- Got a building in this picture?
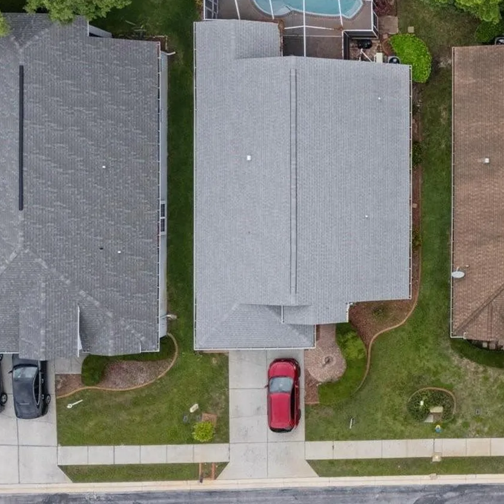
Yes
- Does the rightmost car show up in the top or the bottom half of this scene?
bottom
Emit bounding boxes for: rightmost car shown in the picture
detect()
[263,359,302,430]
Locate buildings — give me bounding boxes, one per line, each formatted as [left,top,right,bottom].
[0,12,177,361]
[450,45,504,340]
[192,18,415,352]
